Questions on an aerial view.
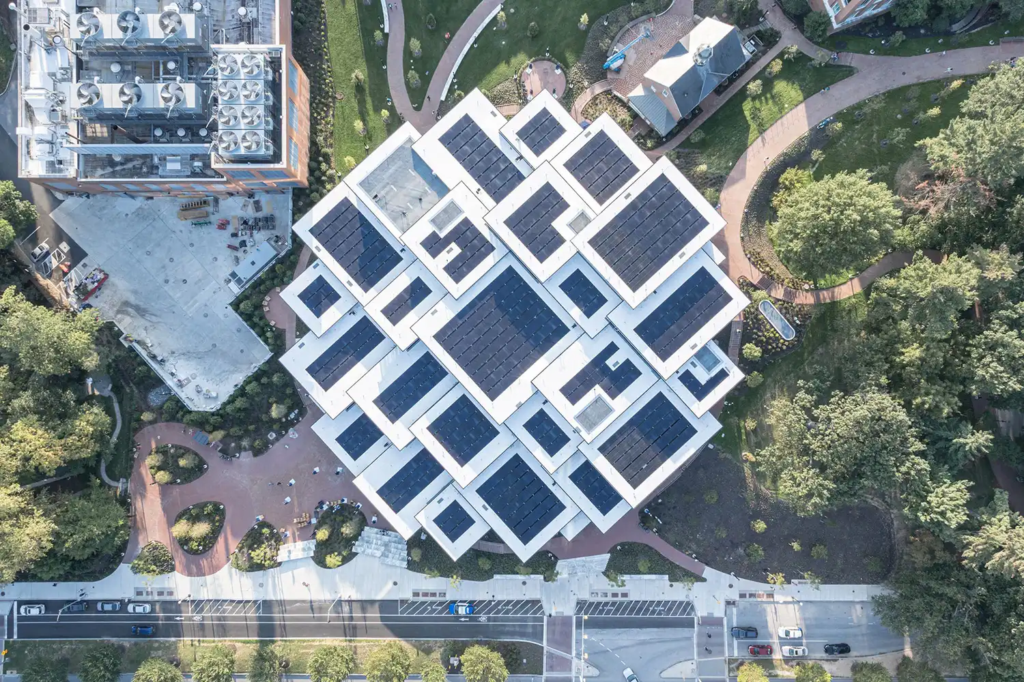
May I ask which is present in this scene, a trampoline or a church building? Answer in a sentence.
The one in the frame is a church building.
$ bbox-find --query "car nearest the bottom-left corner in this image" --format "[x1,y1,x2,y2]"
[21,603,47,616]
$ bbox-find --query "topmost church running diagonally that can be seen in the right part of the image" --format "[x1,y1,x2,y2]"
[627,16,747,137]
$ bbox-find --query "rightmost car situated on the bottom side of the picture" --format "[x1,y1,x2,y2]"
[823,642,850,654]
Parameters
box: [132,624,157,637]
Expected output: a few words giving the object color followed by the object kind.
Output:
blue vehicle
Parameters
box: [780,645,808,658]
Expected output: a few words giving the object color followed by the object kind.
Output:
white vehicle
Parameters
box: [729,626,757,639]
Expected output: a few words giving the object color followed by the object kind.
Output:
blue vehicle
